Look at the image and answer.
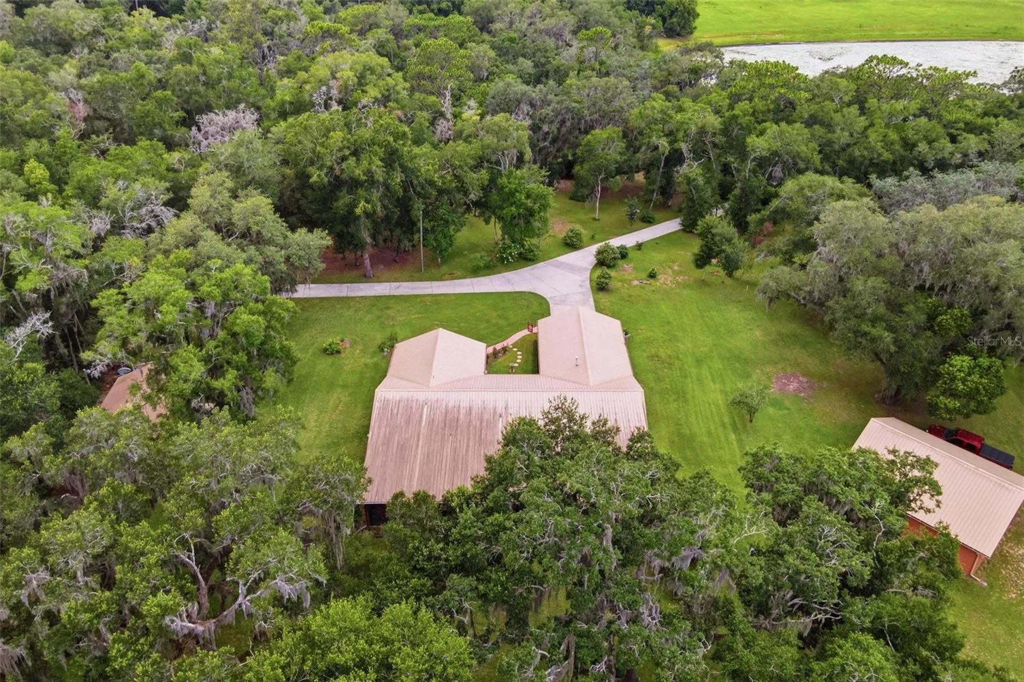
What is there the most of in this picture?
trees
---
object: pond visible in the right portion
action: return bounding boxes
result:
[717,41,1024,106]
